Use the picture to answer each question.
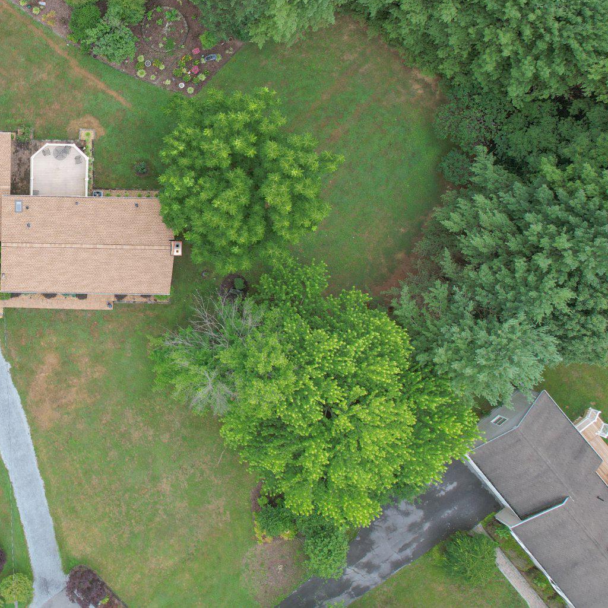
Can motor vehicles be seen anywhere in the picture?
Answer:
No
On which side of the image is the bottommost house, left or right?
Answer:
right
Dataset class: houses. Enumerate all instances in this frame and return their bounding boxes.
[462,390,608,608]
[0,131,184,296]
